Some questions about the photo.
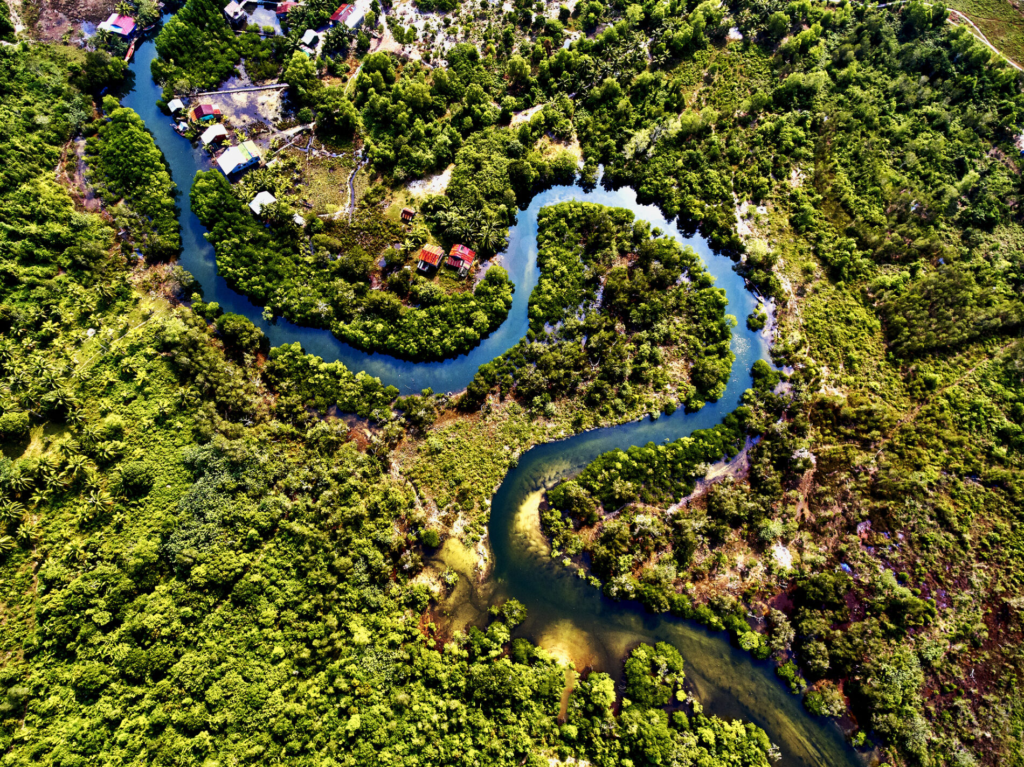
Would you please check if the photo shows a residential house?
Yes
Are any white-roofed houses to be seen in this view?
Yes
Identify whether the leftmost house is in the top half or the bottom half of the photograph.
top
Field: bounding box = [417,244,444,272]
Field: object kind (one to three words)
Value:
house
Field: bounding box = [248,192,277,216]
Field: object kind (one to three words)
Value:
house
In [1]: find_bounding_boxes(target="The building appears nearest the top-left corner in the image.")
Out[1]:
[97,13,138,40]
